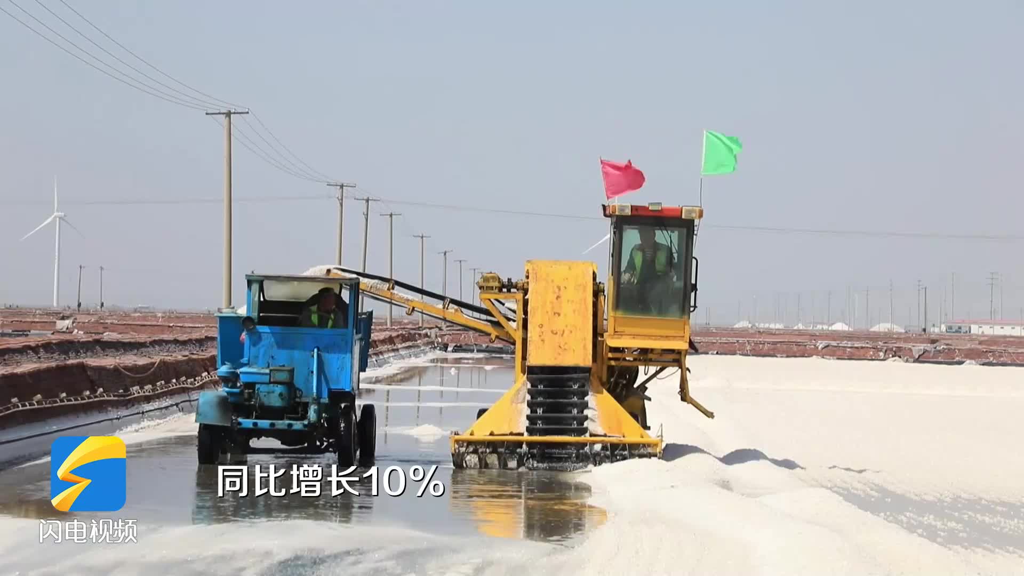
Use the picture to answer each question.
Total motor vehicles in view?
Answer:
2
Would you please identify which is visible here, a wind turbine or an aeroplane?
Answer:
wind turbine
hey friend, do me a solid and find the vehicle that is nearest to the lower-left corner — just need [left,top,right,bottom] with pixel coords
[192,269,383,468]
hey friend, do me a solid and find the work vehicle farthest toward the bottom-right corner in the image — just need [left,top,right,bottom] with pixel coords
[326,203,716,469]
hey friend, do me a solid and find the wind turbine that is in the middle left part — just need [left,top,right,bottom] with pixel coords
[29,171,84,310]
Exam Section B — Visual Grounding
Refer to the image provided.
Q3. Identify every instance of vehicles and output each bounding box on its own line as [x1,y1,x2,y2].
[326,203,716,469]
[192,269,383,468]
